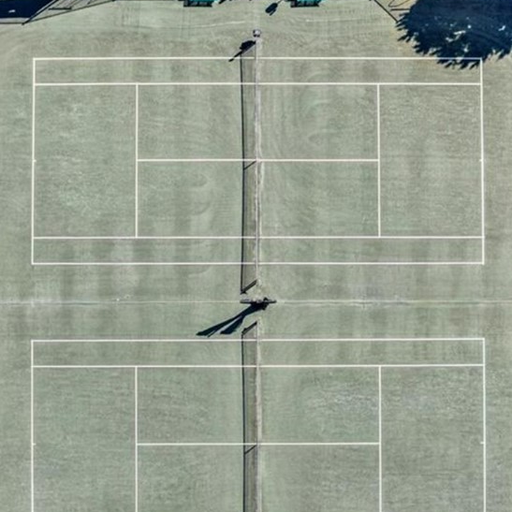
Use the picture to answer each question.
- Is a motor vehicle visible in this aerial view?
No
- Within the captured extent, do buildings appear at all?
No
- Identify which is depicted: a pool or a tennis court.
tennis court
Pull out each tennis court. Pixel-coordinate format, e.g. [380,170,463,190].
[31,57,484,265]
[31,338,485,512]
